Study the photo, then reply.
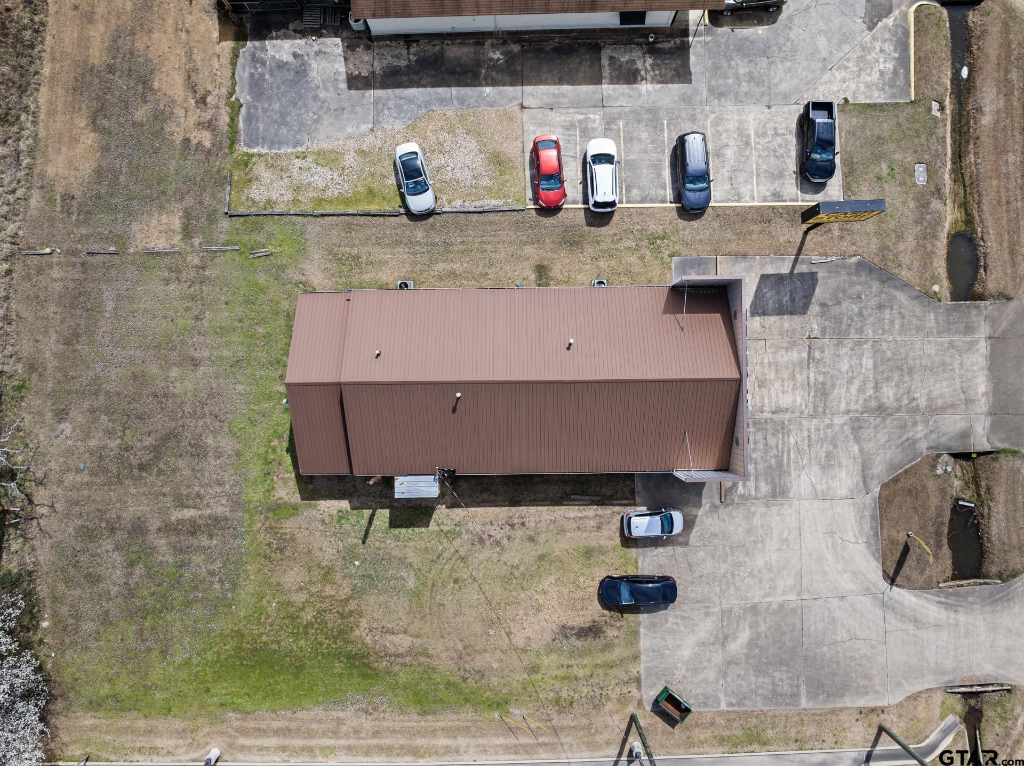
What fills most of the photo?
grass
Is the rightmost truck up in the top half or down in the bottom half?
top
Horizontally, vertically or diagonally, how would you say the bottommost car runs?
horizontally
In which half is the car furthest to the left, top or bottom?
top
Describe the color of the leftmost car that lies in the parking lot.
red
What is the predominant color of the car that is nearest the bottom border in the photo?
black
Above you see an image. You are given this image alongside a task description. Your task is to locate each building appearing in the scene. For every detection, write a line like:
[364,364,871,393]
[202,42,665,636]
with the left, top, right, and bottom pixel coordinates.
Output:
[283,274,753,482]
[349,0,726,41]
